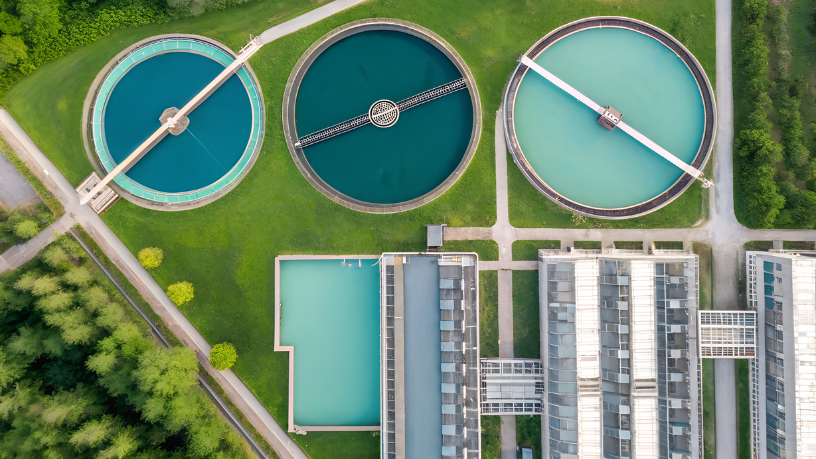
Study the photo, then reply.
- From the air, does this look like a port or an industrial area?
industrial area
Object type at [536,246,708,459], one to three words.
building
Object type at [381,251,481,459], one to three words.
building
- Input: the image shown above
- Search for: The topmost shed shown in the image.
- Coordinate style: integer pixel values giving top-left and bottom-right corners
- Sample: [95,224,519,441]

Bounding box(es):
[426,225,446,252]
